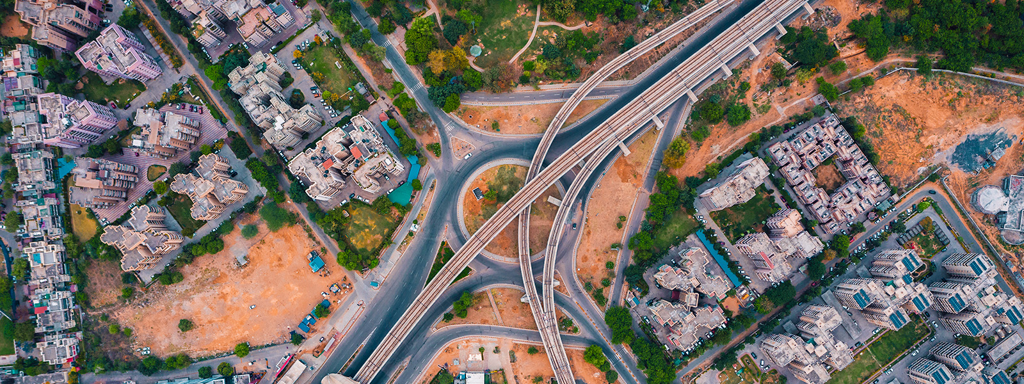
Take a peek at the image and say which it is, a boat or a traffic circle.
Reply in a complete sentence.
This aerial view contains a traffic circle.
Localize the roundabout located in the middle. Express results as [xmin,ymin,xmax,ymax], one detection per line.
[438,139,586,284]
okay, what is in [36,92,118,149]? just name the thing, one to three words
building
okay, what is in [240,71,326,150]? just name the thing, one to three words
building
